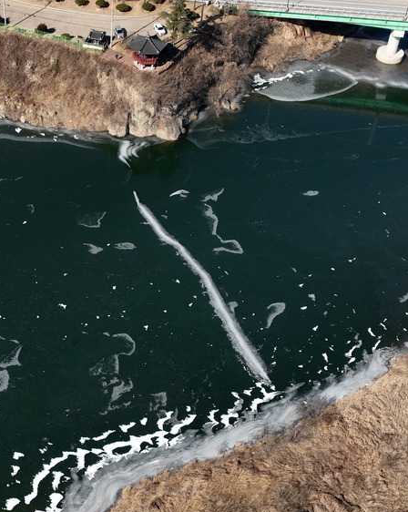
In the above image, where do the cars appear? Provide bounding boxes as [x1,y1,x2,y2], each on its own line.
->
[154,21,167,34]
[114,22,125,37]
